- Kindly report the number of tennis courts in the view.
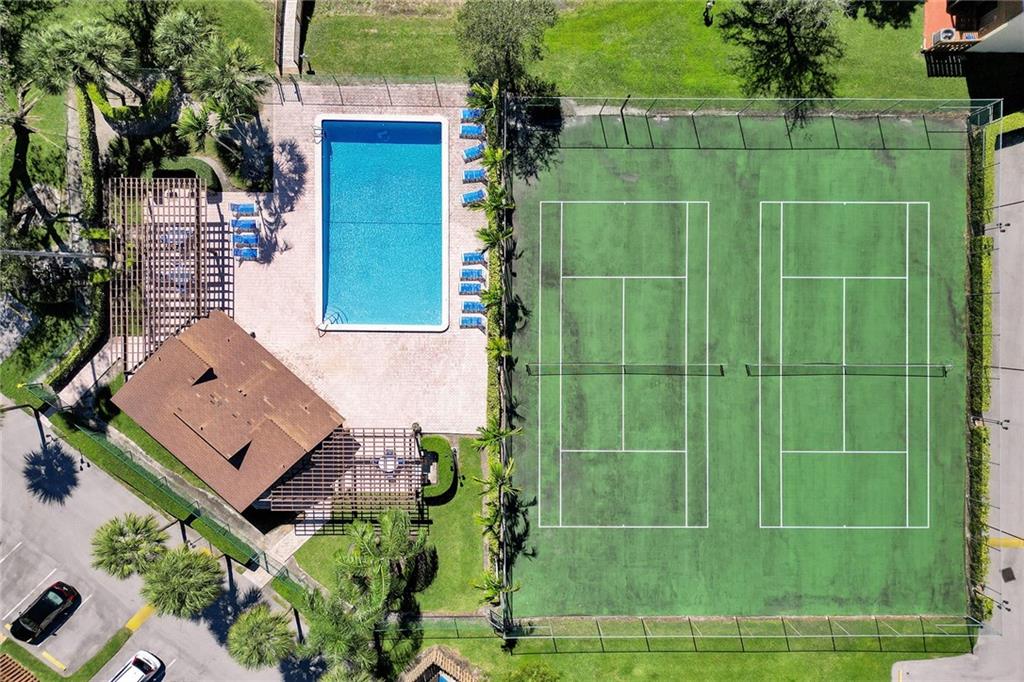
2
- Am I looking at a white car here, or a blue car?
white car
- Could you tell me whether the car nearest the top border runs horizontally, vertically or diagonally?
diagonally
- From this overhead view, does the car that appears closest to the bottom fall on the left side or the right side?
left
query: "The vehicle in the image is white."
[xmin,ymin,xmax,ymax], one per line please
[108,649,160,682]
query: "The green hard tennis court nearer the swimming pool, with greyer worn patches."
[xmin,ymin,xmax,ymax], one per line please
[513,113,734,616]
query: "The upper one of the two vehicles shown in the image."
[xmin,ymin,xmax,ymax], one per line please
[8,579,77,649]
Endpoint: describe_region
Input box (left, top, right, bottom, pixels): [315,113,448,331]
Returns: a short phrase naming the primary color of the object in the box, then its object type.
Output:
blue swimming pool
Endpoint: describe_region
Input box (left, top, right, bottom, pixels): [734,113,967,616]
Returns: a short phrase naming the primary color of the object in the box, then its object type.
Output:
green tennis court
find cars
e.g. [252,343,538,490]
[8,579,77,649]
[108,649,160,682]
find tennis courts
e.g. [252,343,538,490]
[734,113,967,616]
[513,113,734,616]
